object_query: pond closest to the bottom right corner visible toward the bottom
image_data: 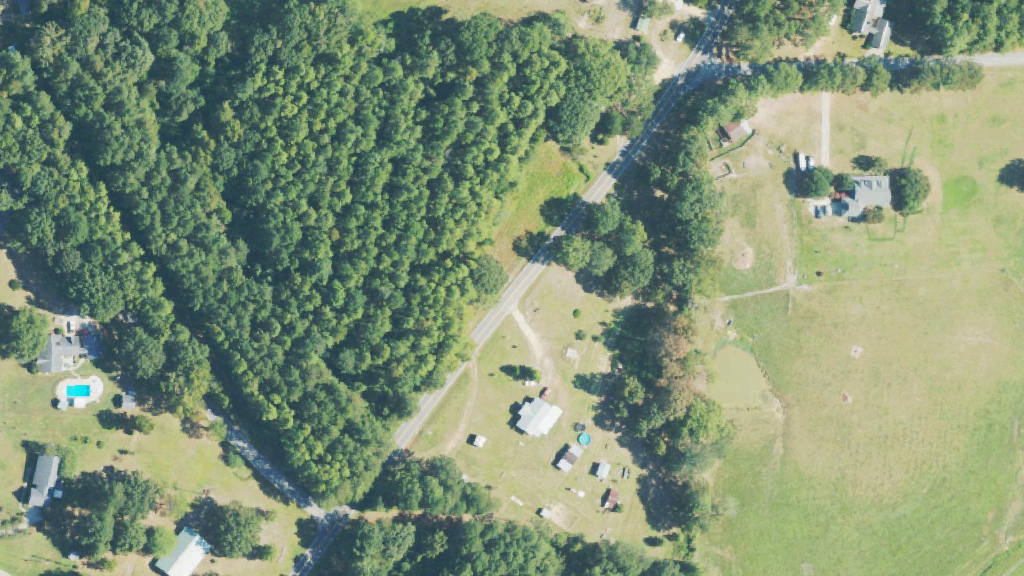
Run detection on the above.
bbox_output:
[710,347,771,408]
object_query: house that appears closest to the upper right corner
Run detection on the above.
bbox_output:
[847,0,894,50]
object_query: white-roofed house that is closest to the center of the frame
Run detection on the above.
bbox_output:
[516,394,564,438]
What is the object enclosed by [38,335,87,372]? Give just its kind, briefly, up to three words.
house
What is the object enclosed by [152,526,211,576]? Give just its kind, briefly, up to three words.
barn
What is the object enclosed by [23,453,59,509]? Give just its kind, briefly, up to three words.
house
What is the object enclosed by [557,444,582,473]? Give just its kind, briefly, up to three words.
barn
